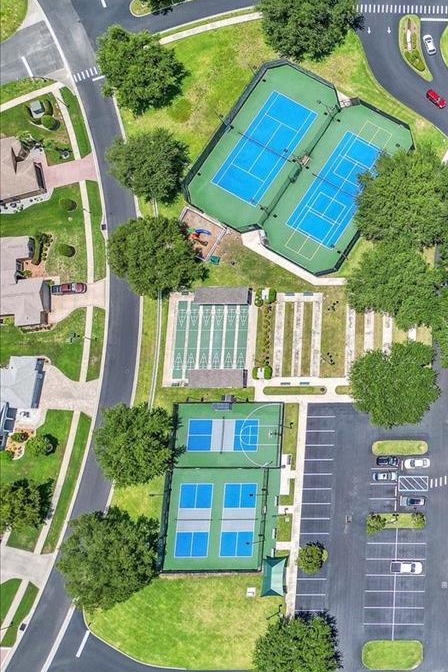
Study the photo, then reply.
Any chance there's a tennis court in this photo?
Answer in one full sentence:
Yes, there's a tennis court down there.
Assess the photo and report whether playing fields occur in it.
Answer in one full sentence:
Yes, I can see a playing field in this picture.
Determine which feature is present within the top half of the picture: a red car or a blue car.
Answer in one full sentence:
The one visible within the top half of the picture is a red car.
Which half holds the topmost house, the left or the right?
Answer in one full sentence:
It is on the left.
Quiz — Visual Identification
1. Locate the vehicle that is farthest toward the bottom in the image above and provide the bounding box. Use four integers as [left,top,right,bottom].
[390,561,422,573]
